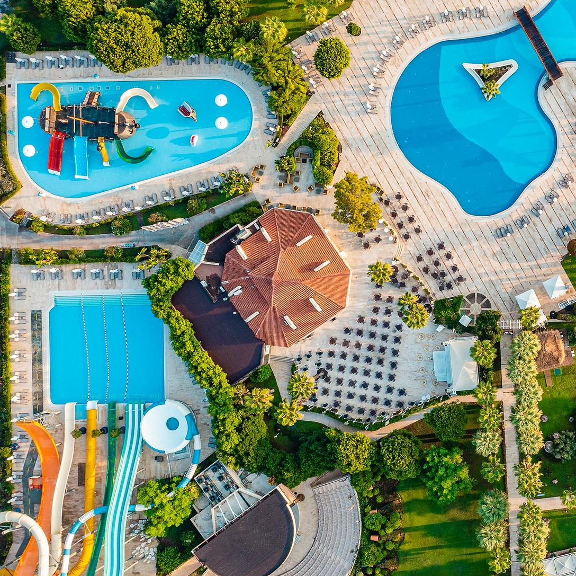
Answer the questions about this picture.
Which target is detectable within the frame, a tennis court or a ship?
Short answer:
ship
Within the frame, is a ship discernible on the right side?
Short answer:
No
